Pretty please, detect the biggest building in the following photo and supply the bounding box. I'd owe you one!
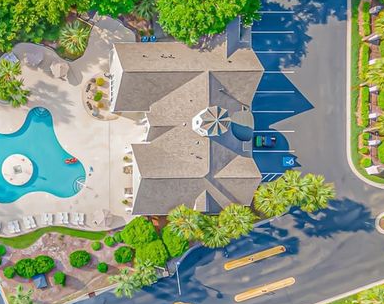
[106,12,266,214]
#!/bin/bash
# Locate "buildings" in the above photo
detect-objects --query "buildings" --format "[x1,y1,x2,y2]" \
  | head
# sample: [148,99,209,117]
[106,12,266,214]
[33,274,47,288]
